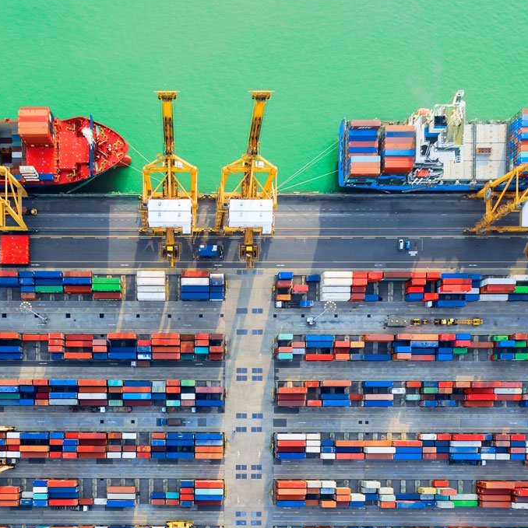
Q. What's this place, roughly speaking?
port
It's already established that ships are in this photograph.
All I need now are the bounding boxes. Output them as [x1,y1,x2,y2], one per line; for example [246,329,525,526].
[0,114,135,193]
[334,88,528,192]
